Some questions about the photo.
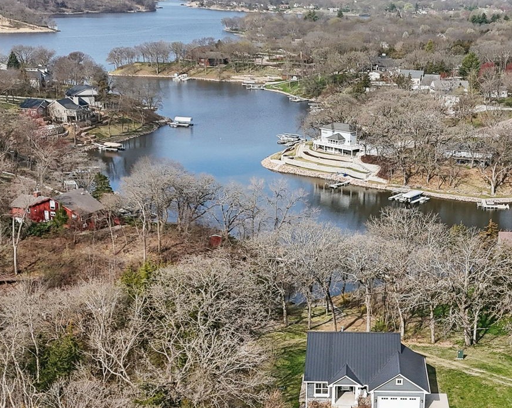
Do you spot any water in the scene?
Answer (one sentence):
Yes, some water is visible.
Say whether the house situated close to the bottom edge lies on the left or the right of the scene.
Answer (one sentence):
It is on the right.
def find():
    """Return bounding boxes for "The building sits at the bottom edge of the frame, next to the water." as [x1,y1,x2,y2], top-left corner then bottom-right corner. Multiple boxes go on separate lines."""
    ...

[301,322,430,408]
